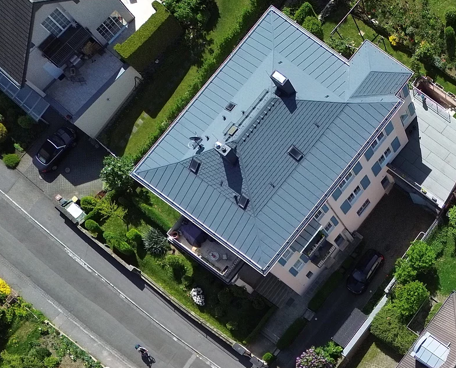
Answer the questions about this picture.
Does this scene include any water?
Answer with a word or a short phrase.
No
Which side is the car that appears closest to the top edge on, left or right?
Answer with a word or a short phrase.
left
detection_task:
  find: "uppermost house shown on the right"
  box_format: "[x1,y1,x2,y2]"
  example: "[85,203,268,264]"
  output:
[128,3,456,315]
